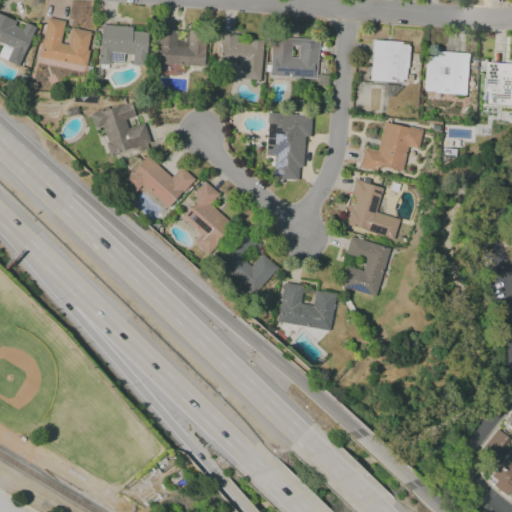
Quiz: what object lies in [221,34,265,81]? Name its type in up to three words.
house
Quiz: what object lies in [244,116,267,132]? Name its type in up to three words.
swimming pool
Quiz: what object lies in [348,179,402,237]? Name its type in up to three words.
house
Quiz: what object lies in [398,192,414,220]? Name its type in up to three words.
swimming pool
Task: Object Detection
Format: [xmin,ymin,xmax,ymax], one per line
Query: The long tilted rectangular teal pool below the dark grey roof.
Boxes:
[296,332,323,364]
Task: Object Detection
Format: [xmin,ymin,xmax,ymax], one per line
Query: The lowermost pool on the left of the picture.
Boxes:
[172,226,192,246]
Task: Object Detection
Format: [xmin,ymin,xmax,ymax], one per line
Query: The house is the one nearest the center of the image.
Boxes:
[232,256,278,291]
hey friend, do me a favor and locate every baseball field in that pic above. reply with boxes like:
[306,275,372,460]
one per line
[0,270,168,486]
